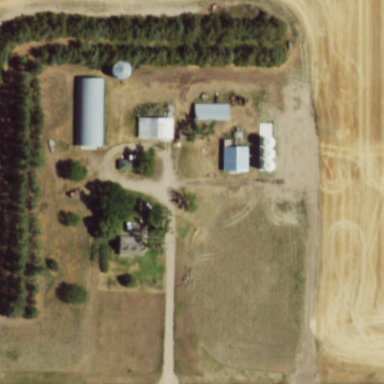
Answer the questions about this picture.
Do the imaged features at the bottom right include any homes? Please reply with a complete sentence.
No, I see no home at the bottom right.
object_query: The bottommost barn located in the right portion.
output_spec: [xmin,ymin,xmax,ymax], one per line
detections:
[223,146,249,174]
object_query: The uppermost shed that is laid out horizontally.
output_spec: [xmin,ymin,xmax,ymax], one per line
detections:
[194,103,230,120]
